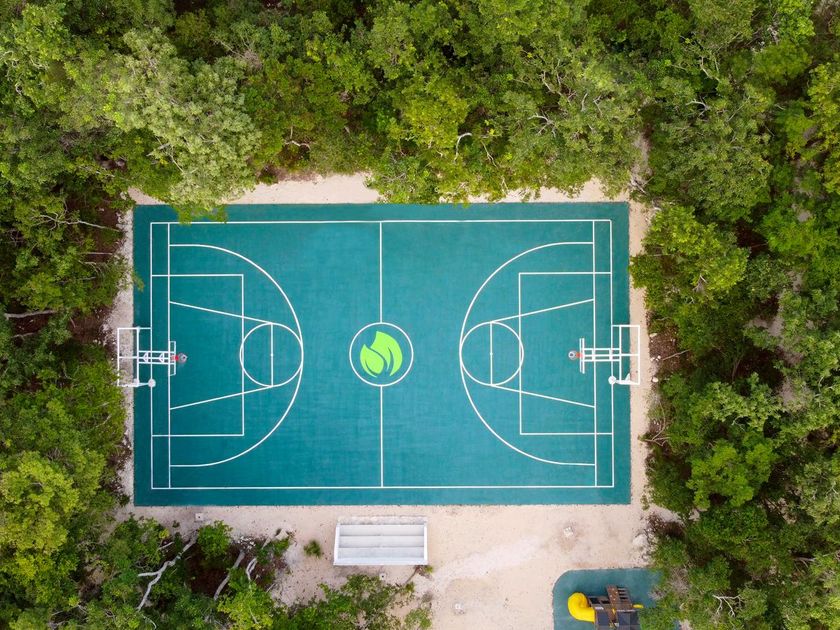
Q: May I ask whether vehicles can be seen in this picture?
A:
No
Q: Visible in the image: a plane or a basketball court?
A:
basketball court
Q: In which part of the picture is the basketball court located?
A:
center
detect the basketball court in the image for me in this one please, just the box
[133,202,631,507]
